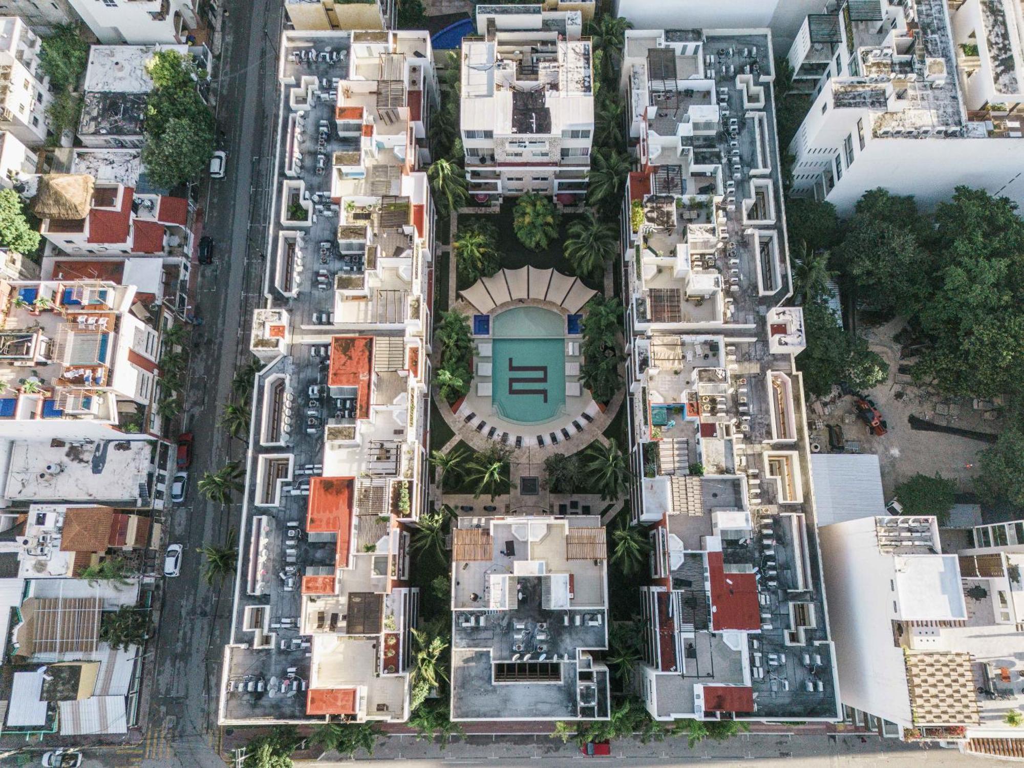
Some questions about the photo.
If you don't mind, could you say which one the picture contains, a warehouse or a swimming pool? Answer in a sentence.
This aerial view contains a swimming pool.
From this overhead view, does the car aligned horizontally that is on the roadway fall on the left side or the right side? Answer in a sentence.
The car aligned horizontally that is on the roadway sits on the left side.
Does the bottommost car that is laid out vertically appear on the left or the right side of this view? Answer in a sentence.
It is on the left.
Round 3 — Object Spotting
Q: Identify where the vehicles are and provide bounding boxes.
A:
[210,153,227,179]
[171,471,191,504]
[165,542,186,579]
[197,237,216,266]
[578,740,614,759]
[42,748,86,768]
[847,394,893,447]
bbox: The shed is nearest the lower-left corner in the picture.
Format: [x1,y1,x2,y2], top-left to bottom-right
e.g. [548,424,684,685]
[9,670,65,726]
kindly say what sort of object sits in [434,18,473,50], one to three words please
swimming pool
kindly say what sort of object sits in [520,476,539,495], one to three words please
fountain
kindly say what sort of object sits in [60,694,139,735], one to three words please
shed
